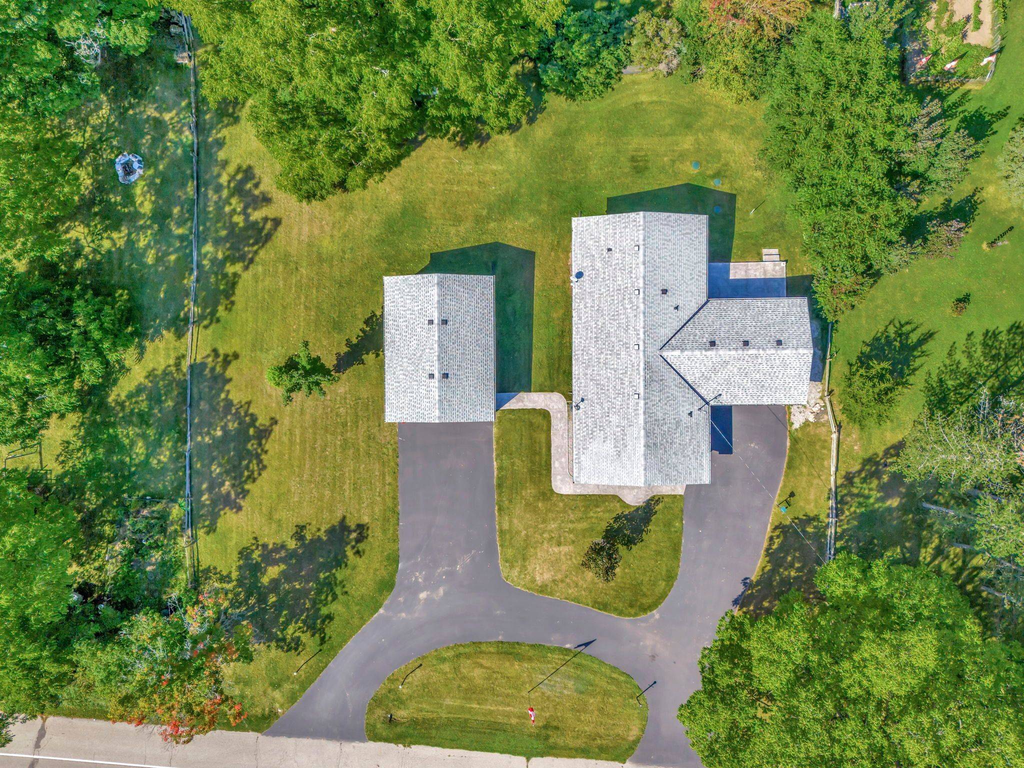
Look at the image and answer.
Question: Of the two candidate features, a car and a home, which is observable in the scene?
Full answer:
It is a home that can be seen here.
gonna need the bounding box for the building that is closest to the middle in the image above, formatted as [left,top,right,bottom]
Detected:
[382,273,496,423]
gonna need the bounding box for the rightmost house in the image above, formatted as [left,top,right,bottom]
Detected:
[568,211,814,487]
